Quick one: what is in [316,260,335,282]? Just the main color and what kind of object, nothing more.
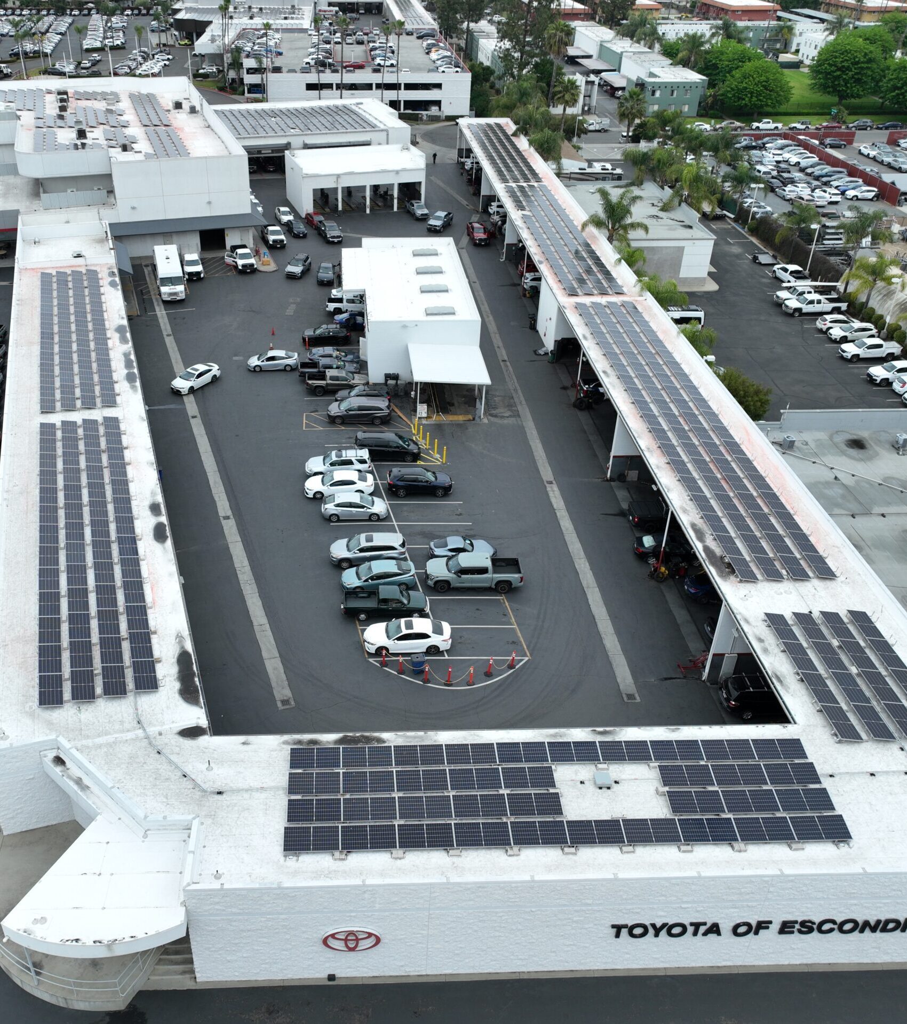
gray car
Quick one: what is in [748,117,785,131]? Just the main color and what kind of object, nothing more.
white vehicle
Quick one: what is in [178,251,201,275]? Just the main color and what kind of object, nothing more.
white truck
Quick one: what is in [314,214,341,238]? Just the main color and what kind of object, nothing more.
gray truck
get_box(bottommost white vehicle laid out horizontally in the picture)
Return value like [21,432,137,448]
[363,616,451,653]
